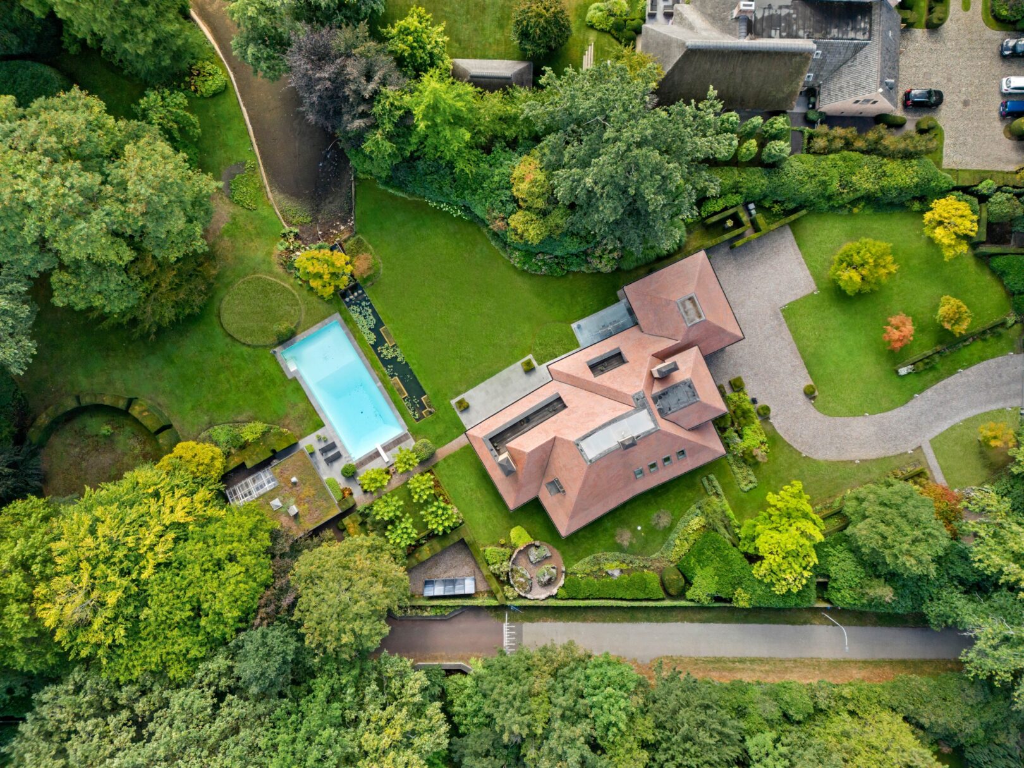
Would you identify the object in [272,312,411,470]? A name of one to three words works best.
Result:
swimming pool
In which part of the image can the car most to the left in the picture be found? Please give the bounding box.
[901,86,944,109]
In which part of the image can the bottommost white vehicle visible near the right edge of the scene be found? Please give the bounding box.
[997,76,1024,96]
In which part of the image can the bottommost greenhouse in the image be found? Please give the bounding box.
[423,574,475,596]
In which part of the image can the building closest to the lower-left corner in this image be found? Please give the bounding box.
[226,447,344,543]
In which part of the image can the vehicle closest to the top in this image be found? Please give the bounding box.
[997,37,1024,60]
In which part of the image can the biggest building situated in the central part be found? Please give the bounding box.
[464,249,746,539]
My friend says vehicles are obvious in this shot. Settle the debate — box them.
[997,101,1024,120]
[997,37,1024,60]
[997,76,1024,96]
[901,86,944,109]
